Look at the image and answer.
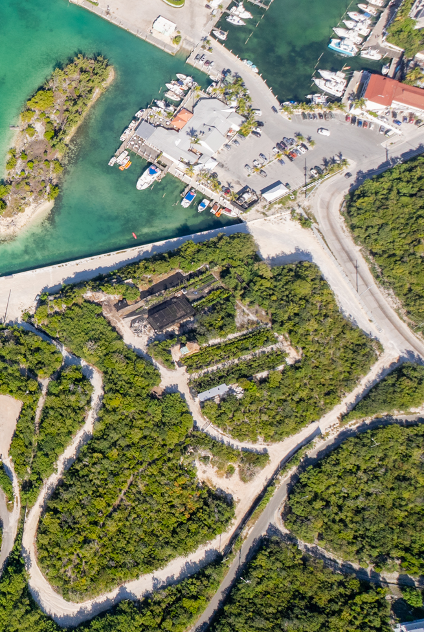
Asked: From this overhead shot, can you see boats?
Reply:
Yes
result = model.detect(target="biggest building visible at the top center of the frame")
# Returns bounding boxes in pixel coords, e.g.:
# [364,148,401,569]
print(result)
[144,99,246,169]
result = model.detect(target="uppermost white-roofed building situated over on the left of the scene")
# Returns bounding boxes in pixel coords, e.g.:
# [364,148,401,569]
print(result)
[151,16,176,39]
